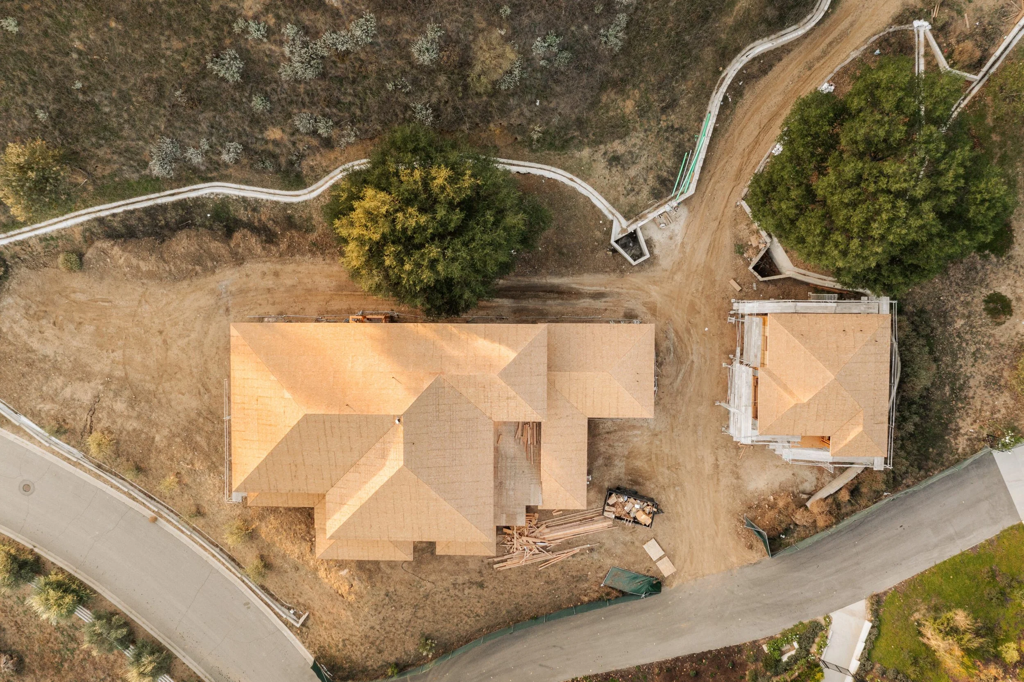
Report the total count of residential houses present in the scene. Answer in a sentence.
In total, there are 2 residential houses in the scene.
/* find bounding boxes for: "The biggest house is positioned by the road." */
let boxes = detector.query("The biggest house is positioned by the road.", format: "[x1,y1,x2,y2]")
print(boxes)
[230,313,655,561]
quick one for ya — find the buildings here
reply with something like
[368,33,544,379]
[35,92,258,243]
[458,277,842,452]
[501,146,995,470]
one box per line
[739,314,891,457]
[230,313,655,561]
